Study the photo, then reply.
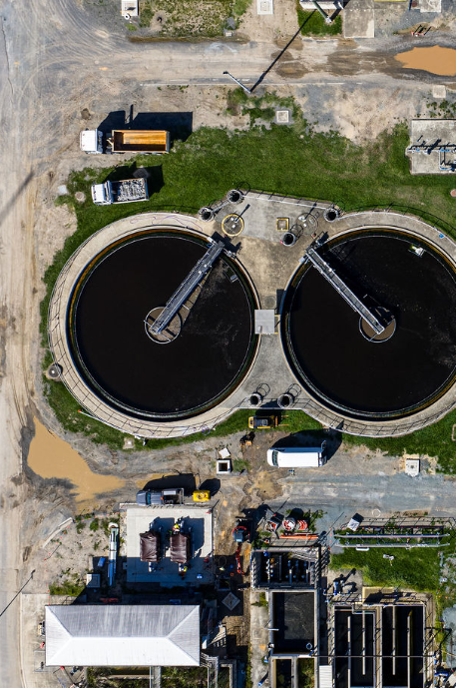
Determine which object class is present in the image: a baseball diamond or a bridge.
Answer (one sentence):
Visible in the photo is a bridge.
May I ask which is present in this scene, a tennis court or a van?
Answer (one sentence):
It is a van that can be seen here.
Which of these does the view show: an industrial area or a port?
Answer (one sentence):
It's an industrial area.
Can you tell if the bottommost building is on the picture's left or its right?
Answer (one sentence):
The bottommost building sits on the left side.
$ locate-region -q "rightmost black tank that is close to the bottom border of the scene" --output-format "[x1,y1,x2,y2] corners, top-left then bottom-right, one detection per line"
[330,606,428,688]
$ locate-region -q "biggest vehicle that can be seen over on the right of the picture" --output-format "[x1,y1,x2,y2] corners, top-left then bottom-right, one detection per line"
[269,440,330,469]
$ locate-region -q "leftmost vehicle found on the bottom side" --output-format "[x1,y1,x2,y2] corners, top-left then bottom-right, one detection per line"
[134,486,189,508]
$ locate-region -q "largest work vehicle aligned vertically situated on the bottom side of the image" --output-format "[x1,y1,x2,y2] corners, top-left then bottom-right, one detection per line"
[232,516,250,574]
